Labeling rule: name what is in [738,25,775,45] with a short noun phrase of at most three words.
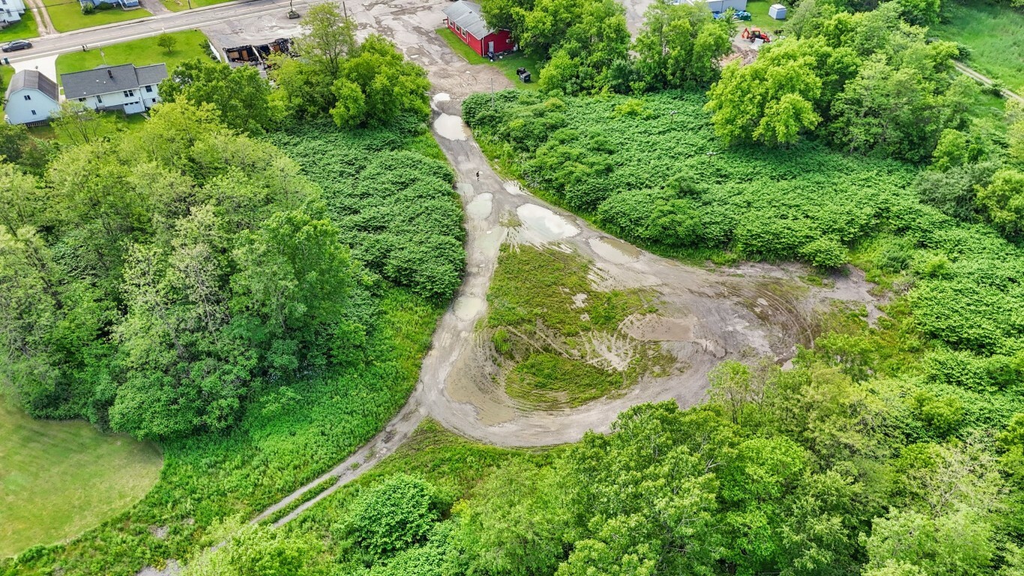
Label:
work vehicle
